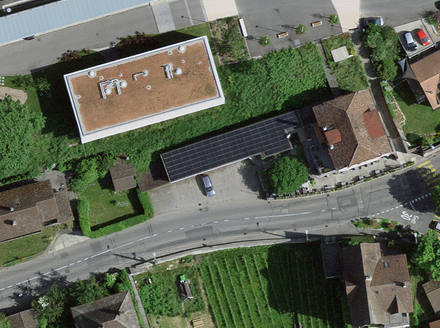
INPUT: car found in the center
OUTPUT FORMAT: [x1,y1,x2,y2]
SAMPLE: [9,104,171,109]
[202,175,216,198]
